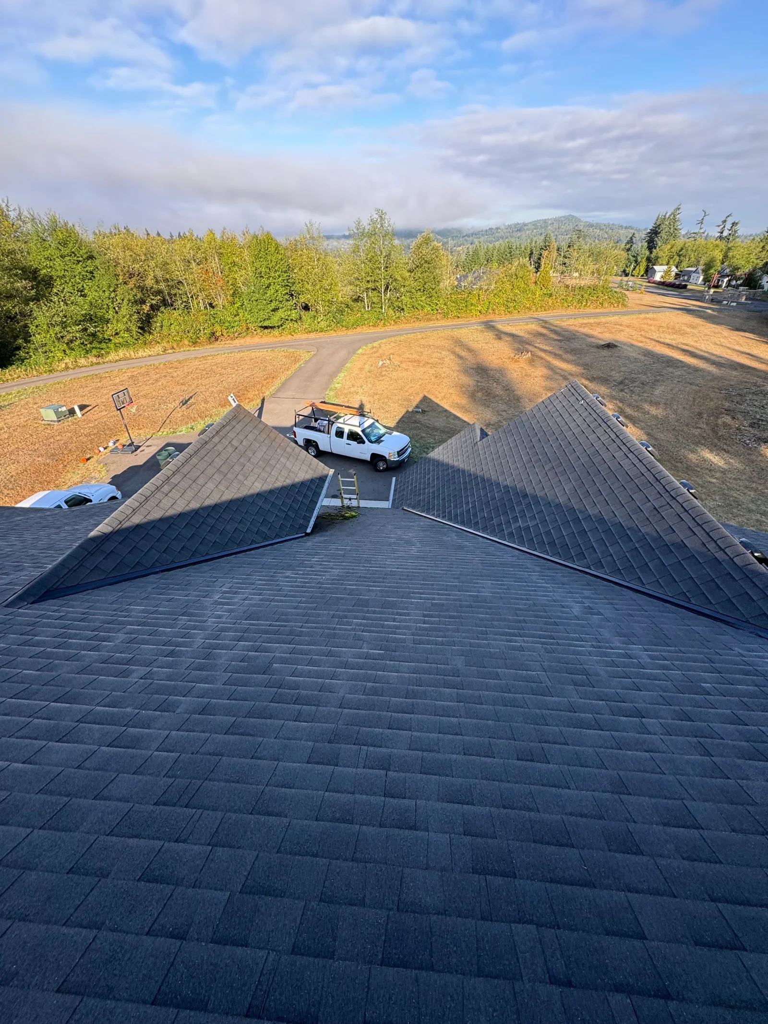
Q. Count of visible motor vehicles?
2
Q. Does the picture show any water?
No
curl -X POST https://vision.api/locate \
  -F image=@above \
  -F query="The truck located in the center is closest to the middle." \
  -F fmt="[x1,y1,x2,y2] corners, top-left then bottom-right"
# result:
[284,405,416,472]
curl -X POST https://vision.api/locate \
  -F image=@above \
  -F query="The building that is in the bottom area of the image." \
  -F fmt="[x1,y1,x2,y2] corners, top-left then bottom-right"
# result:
[0,380,768,1024]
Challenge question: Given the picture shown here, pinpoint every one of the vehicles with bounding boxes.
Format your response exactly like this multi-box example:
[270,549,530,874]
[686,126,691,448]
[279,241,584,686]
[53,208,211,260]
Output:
[15,483,129,508]
[284,405,416,472]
